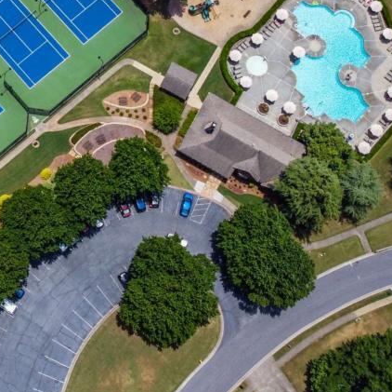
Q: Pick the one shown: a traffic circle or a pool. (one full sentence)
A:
The one in the frame is a pool.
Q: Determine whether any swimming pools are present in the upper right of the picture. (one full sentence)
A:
Yes, you'll find a swimming pool in the upper right of the picture.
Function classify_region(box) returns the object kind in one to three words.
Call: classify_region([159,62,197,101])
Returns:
building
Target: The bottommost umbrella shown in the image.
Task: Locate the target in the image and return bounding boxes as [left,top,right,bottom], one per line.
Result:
[356,142,371,155]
